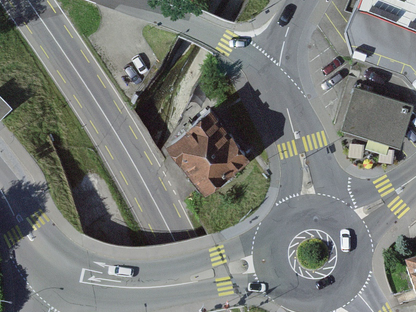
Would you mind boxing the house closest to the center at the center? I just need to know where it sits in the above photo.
[168,104,250,198]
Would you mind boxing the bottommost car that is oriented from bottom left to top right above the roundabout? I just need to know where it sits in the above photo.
[324,71,346,89]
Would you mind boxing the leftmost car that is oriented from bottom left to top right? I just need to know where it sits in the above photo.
[279,4,296,26]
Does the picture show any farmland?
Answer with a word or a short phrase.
No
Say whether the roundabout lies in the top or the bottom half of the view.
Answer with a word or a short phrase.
bottom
